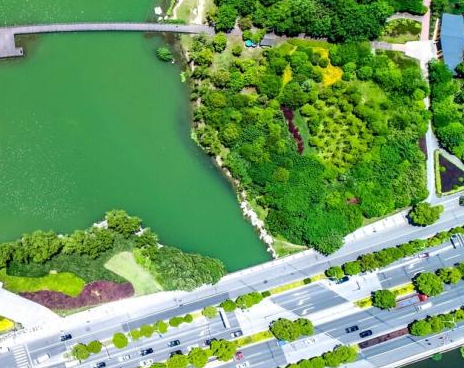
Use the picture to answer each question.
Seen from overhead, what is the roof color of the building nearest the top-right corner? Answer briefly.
blue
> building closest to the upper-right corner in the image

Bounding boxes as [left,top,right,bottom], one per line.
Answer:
[431,14,464,76]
